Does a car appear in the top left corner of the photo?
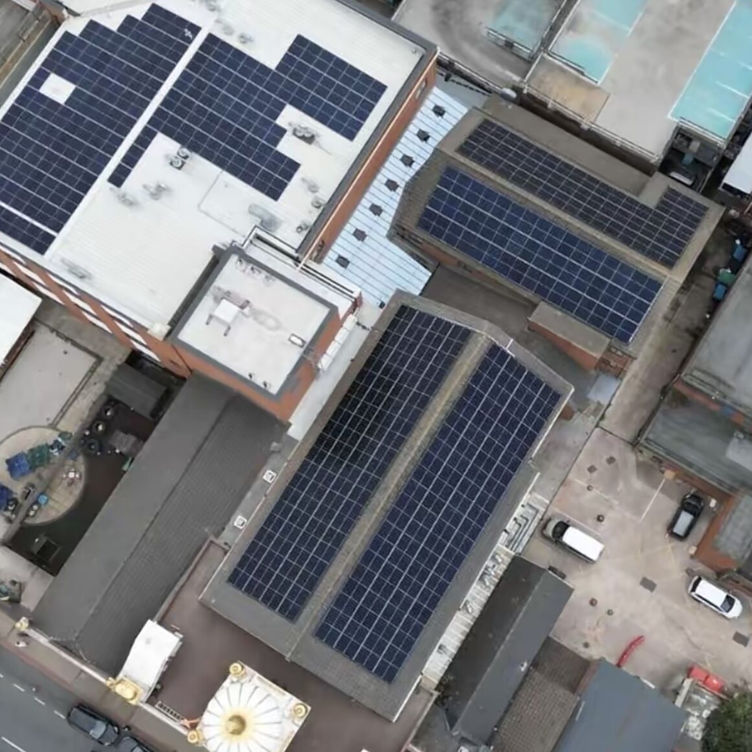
No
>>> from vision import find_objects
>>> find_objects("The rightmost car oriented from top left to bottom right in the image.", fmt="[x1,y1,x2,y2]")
[684,572,744,621]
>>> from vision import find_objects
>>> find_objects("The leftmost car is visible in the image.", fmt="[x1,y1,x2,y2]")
[62,701,124,748]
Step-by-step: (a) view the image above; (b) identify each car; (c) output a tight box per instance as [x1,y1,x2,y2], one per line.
[541,518,607,563]
[665,491,707,544]
[684,572,744,621]
[114,735,157,752]
[62,701,124,748]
